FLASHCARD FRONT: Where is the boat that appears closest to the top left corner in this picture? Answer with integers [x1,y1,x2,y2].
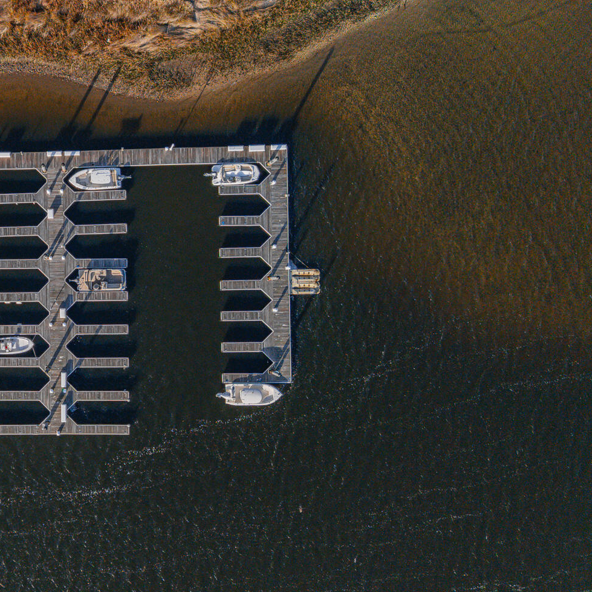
[69,169,133,191]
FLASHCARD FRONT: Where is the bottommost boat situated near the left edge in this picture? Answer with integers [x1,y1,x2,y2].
[0,337,34,354]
